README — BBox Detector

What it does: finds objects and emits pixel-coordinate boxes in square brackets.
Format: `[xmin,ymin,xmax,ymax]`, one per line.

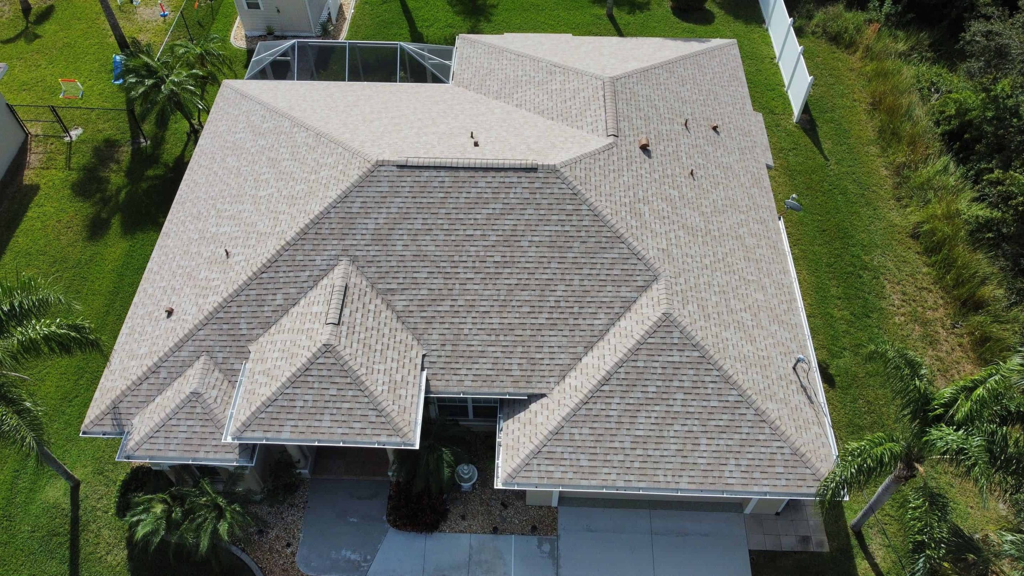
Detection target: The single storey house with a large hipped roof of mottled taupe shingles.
[79,34,851,530]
